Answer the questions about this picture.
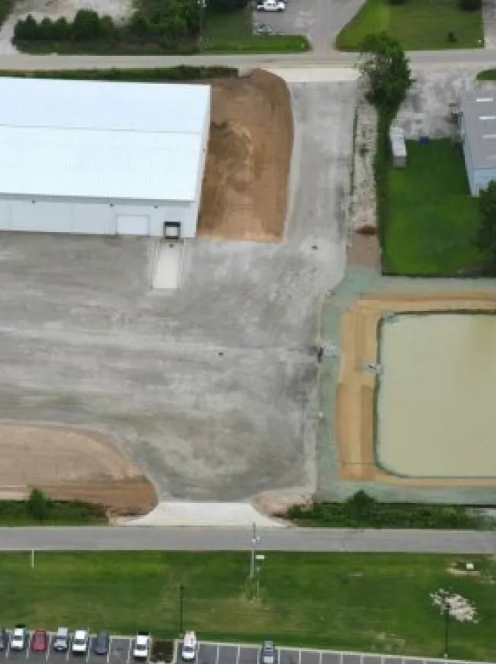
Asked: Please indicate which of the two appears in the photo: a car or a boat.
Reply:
car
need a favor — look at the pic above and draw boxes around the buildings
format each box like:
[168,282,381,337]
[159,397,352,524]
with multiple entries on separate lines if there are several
[0,76,210,242]
[449,86,496,196]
